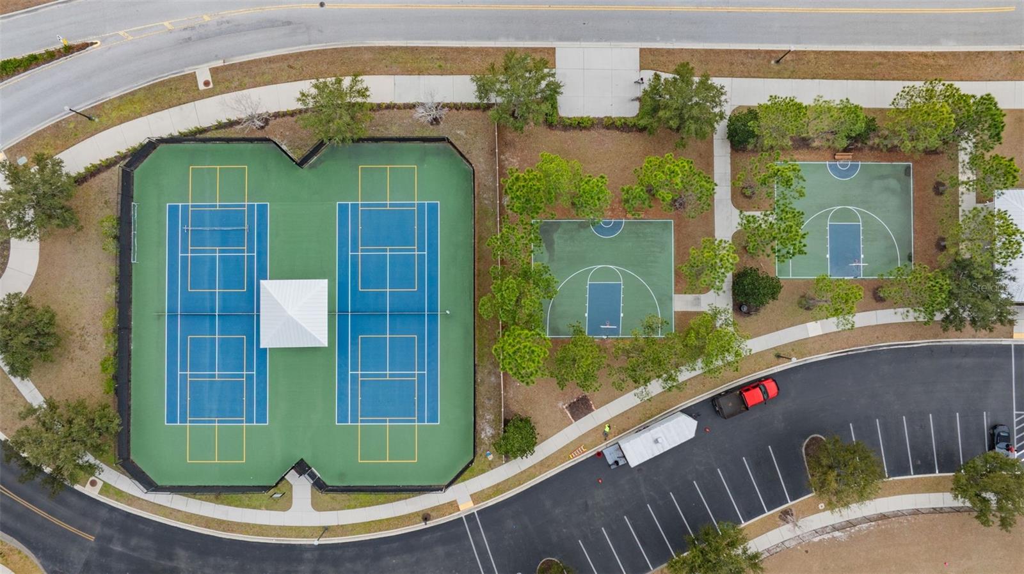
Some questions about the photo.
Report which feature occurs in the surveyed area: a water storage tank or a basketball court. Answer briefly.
basketball court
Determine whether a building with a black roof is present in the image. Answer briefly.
No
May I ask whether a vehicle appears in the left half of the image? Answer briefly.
No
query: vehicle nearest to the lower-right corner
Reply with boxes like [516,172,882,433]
[989,426,1012,466]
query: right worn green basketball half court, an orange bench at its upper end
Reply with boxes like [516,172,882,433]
[774,162,914,278]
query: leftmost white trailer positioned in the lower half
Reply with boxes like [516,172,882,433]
[602,412,701,470]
